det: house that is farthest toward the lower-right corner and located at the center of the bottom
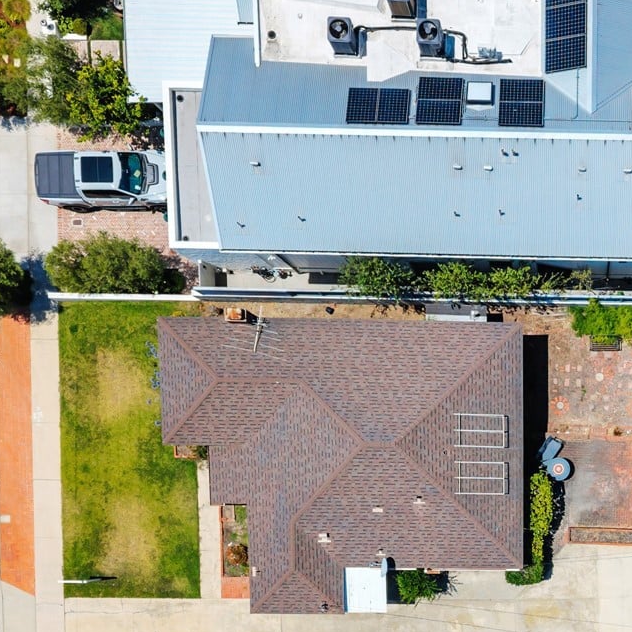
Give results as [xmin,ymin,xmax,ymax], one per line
[155,305,526,616]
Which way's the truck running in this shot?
horizontally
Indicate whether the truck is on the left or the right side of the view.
left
